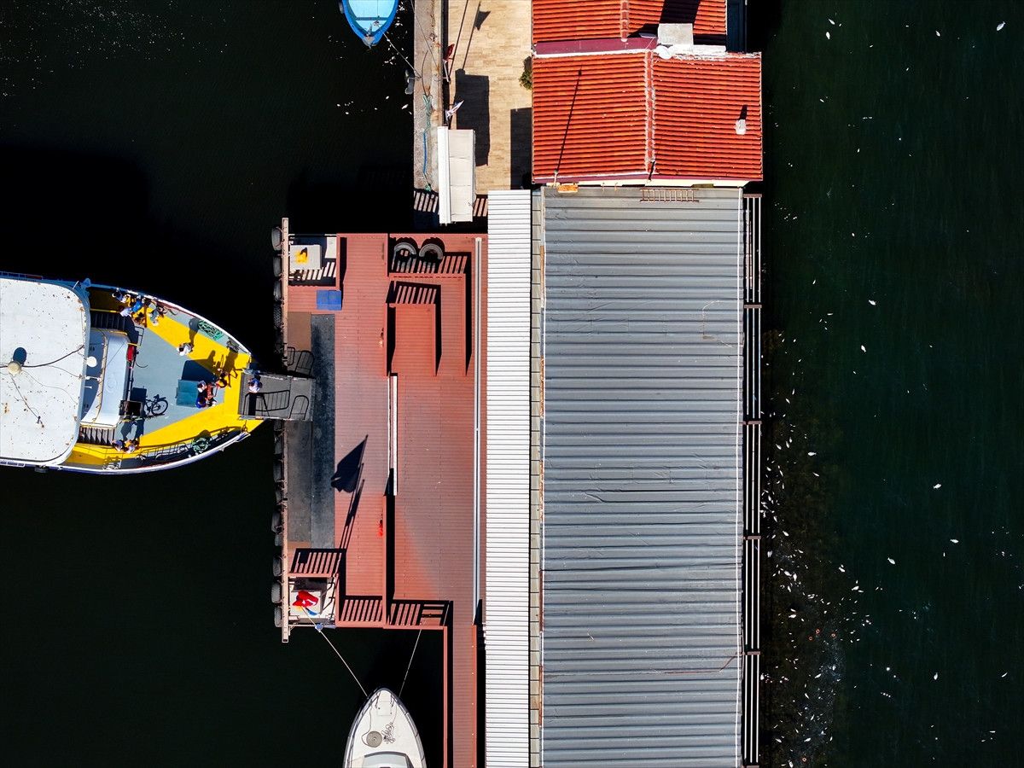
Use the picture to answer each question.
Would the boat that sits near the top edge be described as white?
No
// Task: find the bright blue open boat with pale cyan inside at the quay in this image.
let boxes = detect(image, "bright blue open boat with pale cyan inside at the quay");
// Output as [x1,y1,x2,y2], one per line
[338,0,398,50]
